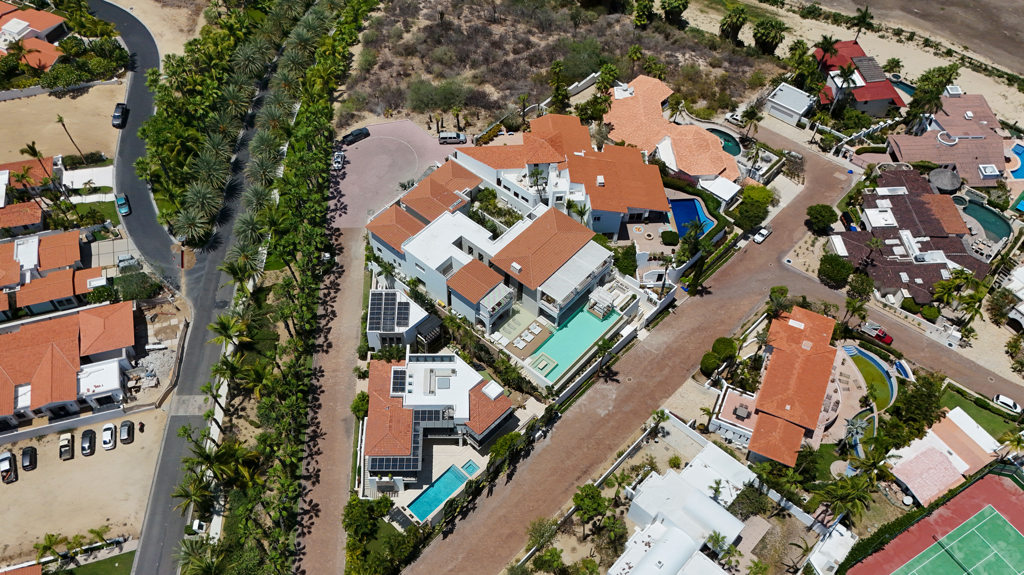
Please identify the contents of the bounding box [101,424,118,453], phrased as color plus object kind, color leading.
white car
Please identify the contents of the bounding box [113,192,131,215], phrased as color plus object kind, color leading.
blue vehicle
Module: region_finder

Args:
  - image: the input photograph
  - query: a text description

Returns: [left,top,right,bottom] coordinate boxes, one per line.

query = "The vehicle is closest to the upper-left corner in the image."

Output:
[112,106,127,125]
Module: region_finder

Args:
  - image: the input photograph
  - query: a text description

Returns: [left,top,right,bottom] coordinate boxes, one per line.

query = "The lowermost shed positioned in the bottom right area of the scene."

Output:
[807,523,858,575]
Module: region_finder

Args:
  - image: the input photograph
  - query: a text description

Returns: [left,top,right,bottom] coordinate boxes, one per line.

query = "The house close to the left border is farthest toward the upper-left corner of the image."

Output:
[0,2,67,76]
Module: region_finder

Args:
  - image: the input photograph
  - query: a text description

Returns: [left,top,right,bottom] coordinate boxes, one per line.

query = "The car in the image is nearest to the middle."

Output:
[440,132,466,144]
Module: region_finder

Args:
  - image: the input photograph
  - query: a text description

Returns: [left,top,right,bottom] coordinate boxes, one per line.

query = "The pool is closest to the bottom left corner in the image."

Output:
[407,461,471,524]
